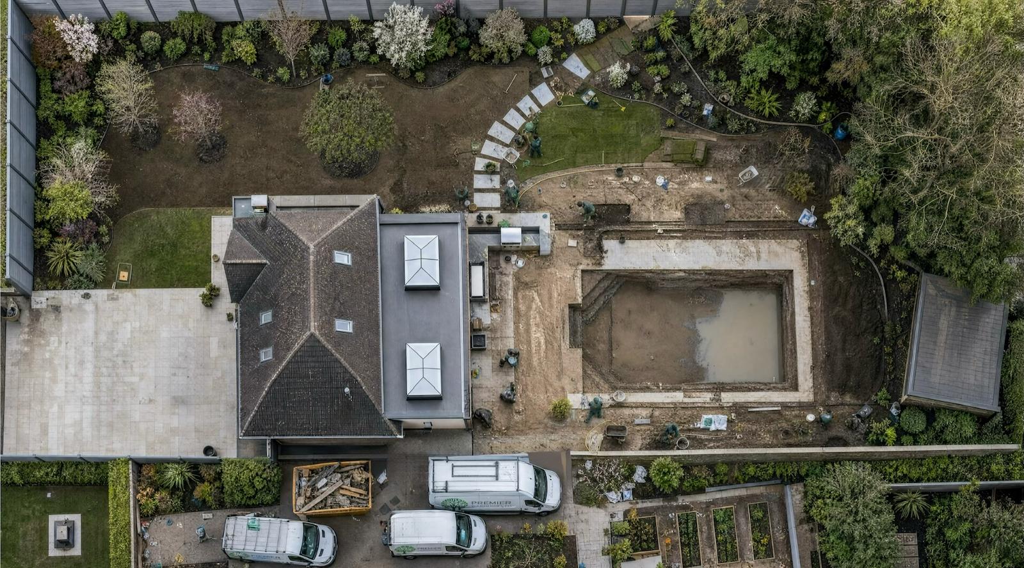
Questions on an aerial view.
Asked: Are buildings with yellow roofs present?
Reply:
No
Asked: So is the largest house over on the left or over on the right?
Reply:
left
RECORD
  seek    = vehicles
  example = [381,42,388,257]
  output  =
[387,506,490,562]
[223,515,339,568]
[430,449,561,516]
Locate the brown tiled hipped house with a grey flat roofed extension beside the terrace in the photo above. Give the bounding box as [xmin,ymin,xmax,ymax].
[223,192,472,455]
